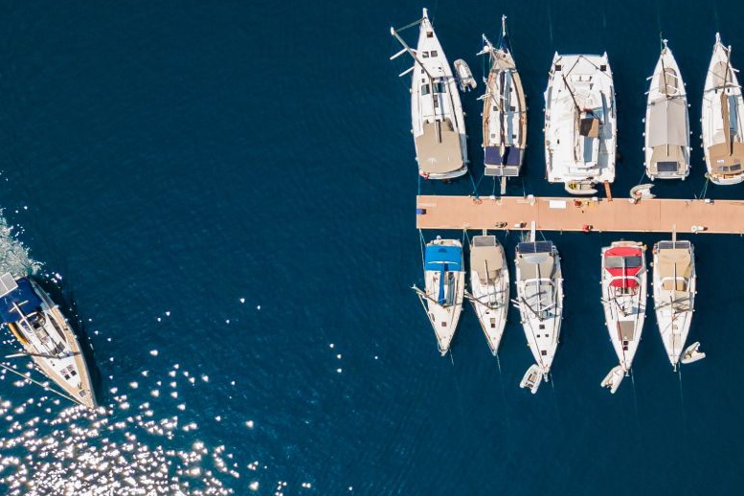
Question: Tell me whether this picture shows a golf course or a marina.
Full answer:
This looks like a marina.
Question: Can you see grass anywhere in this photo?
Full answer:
No, there is no grass in the image.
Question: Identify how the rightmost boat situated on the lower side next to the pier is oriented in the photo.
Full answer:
The rightmost boat situated on the lower side next to the pier is laid out from top to bottom.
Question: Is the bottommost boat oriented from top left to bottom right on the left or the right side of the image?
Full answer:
You can find the bottommost boat oriented from top left to bottom right on the left side of the picture.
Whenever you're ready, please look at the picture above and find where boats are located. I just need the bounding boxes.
[599,230,649,379]
[525,41,622,201]
[0,269,99,413]
[639,36,693,183]
[389,5,475,194]
[463,225,509,362]
[630,184,654,199]
[680,343,706,365]
[564,182,599,195]
[699,31,744,198]
[453,58,474,90]
[521,364,542,393]
[649,226,698,375]
[602,366,623,393]
[513,225,565,381]
[474,15,530,196]
[412,229,468,359]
